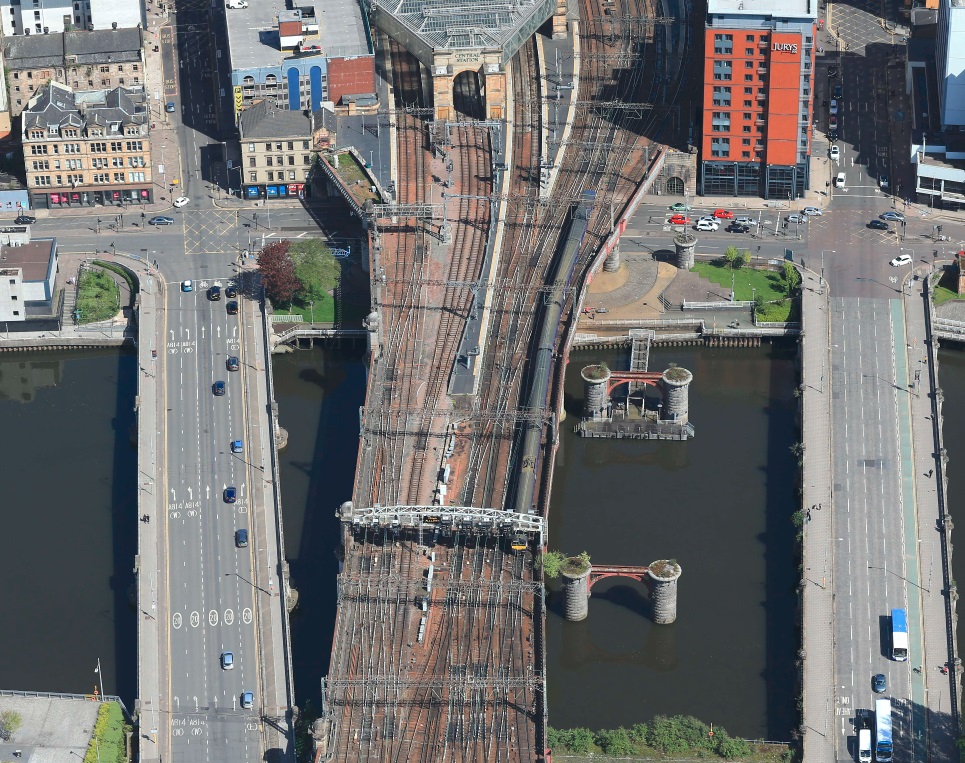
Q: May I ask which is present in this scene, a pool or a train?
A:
train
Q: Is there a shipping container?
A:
No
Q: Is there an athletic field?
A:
No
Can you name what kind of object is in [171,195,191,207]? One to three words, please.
vehicle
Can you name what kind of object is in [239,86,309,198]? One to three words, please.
building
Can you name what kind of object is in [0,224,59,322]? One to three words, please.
building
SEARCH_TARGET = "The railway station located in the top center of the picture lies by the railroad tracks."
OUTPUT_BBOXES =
[352,0,571,119]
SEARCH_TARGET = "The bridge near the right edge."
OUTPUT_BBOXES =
[789,300,965,763]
